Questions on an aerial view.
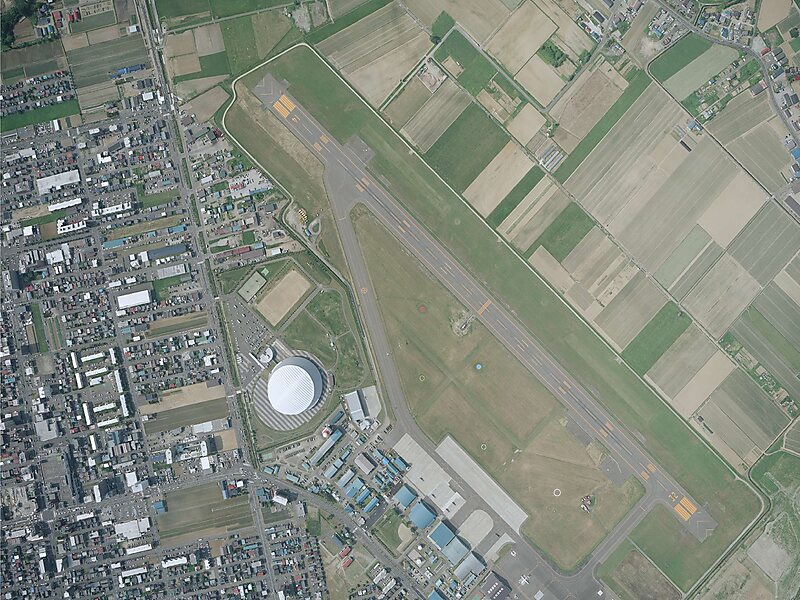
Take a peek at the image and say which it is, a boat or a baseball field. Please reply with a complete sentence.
There is a baseball field in the scene.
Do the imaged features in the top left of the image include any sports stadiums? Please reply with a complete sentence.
No, the scene shows no sports stadium in the top left of the image.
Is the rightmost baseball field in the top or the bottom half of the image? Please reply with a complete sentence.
The rightmost baseball field sits in the bottom half of the picture.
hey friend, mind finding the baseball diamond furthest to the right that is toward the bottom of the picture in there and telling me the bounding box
[370,505,424,560]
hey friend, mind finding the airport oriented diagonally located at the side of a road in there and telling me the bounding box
[224,47,762,600]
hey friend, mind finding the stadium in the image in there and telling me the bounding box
[263,355,322,413]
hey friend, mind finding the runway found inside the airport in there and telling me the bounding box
[252,73,720,543]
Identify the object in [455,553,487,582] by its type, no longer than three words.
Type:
hangar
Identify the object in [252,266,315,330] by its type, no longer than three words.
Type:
sports field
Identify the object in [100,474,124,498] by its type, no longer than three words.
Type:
building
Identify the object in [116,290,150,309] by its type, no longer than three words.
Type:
building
